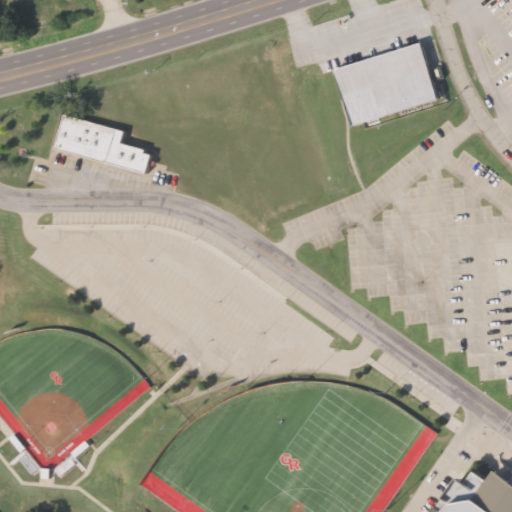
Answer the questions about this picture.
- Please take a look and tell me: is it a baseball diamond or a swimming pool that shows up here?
baseball diamond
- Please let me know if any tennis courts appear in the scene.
No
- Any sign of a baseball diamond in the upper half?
No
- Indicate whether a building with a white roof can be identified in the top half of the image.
Yes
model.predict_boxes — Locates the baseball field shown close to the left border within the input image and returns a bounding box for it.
[0,328,152,466]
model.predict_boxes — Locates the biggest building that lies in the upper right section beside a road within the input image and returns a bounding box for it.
[333,42,440,126]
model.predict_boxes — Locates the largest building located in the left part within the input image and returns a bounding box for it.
[54,114,154,174]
